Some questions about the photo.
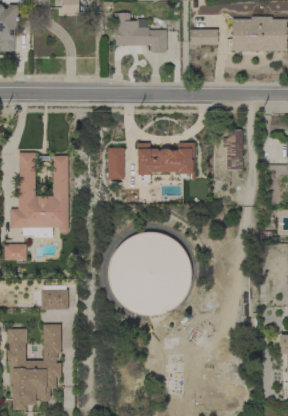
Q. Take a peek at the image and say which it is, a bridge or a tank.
tank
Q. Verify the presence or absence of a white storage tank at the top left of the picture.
No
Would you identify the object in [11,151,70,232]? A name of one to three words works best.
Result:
house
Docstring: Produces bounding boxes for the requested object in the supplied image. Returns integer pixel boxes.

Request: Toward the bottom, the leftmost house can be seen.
[4,243,26,260]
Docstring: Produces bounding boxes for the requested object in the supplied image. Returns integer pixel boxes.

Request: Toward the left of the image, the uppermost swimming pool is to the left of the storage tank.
[35,242,60,258]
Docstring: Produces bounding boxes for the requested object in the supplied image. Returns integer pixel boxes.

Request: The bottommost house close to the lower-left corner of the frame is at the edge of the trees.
[8,324,62,410]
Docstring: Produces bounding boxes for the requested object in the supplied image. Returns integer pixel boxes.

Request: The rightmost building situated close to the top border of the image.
[233,16,288,50]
